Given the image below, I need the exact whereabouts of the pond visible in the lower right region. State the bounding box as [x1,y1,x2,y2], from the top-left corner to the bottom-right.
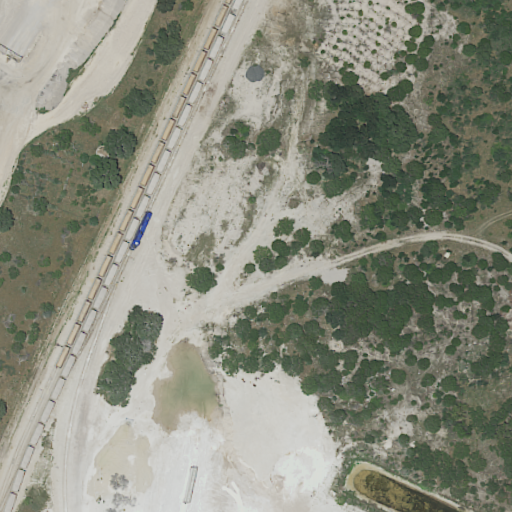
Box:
[354,470,454,512]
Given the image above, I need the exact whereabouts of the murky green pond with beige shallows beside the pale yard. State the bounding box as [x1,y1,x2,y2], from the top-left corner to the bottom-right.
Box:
[152,338,217,434]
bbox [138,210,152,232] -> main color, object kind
blue rail car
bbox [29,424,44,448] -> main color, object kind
white rail car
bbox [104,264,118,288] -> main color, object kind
white rail car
